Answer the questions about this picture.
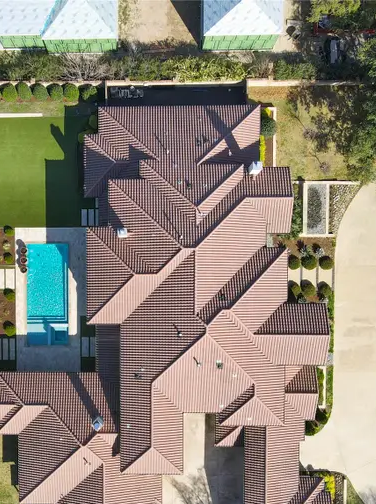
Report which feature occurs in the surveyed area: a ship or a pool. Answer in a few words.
pool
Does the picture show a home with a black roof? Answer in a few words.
No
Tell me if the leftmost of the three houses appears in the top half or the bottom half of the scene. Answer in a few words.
top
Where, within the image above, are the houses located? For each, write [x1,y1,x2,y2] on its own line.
[0,103,332,504]
[0,0,118,54]
[200,0,283,49]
